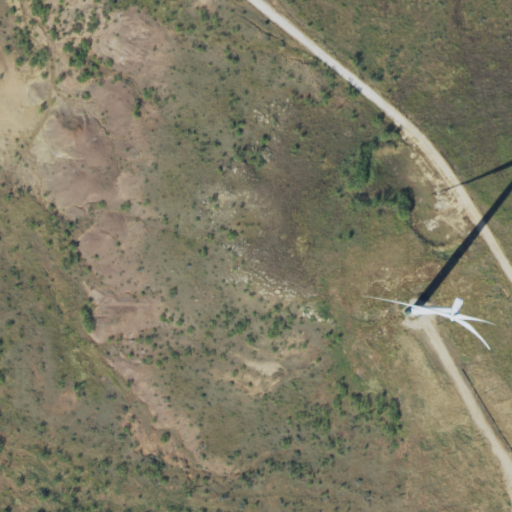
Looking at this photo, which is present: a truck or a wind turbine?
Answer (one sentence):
Visible in the photo is a wind turbine.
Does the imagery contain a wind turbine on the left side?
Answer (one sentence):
No, there is no wind turbine on the left side.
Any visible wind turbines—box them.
[366,296,497,350]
